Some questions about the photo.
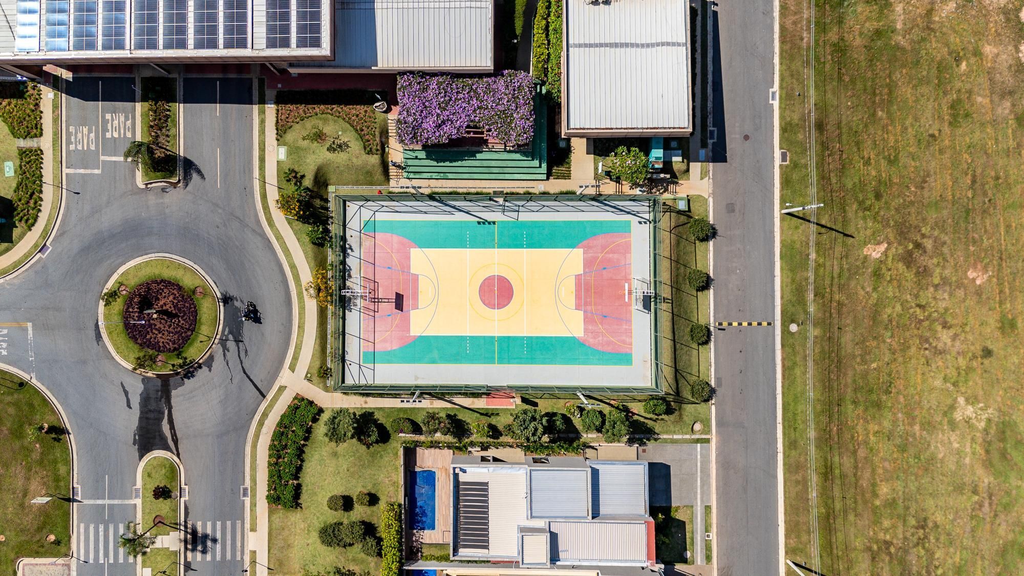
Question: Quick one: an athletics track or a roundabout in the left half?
roundabout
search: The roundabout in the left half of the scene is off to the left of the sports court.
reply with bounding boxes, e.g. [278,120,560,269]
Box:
[99,253,224,378]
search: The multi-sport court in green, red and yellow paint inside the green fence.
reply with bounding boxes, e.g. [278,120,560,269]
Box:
[345,201,652,386]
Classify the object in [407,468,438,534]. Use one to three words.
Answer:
swimming pool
